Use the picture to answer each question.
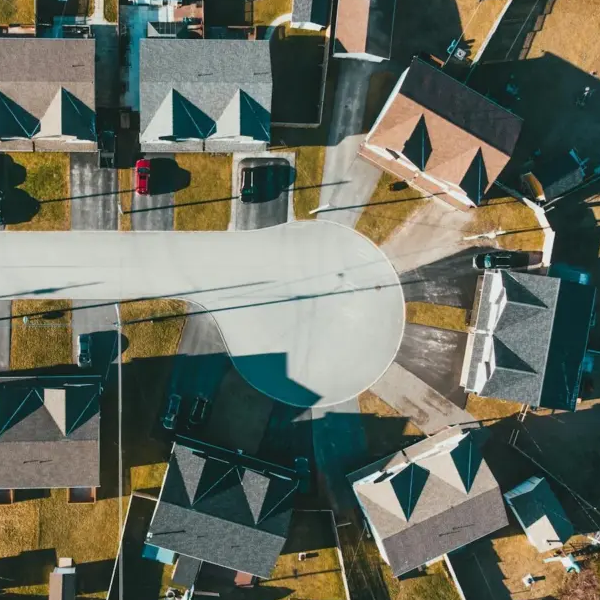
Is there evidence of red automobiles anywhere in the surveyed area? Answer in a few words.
Yes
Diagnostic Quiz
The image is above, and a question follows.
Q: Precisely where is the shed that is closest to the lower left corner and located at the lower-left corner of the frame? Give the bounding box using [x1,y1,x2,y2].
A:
[49,569,76,600]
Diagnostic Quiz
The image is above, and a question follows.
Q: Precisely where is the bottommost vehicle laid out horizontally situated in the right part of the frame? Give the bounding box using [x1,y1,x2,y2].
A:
[473,251,516,270]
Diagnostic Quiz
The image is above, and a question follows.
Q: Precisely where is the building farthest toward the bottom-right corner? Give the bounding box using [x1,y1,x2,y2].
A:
[511,473,576,550]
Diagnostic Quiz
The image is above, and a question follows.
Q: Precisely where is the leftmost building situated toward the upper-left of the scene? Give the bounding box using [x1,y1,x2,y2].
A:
[0,38,101,153]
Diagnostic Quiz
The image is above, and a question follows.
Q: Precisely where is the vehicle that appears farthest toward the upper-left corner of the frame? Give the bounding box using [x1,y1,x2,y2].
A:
[99,127,116,169]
